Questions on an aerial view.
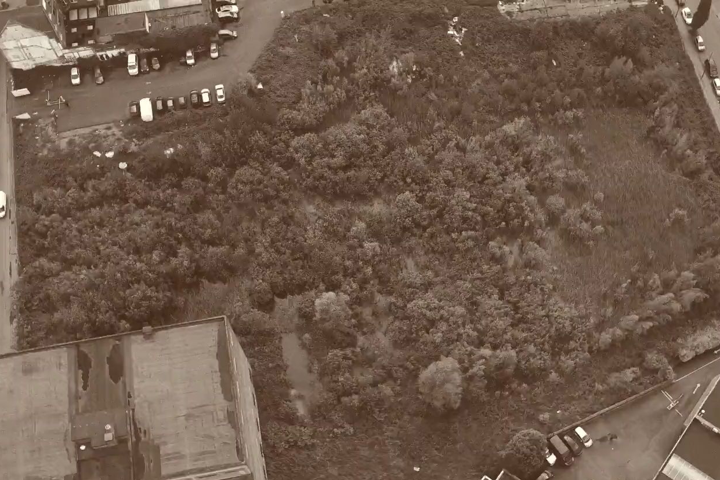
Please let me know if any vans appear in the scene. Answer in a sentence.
Yes, there is a van in the image.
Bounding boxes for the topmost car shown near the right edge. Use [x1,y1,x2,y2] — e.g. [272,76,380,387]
[681,9,694,24]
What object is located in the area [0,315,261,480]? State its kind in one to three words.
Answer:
building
